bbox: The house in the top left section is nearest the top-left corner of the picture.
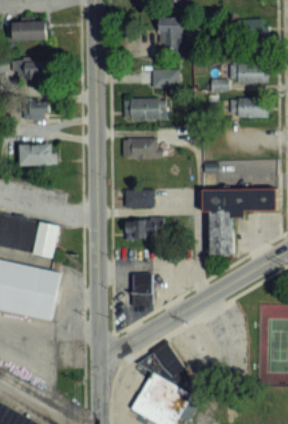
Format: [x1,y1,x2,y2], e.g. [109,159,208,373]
[12,18,48,40]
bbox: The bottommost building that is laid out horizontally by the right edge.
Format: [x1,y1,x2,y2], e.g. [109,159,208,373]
[200,188,276,217]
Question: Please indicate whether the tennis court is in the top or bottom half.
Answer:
bottom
